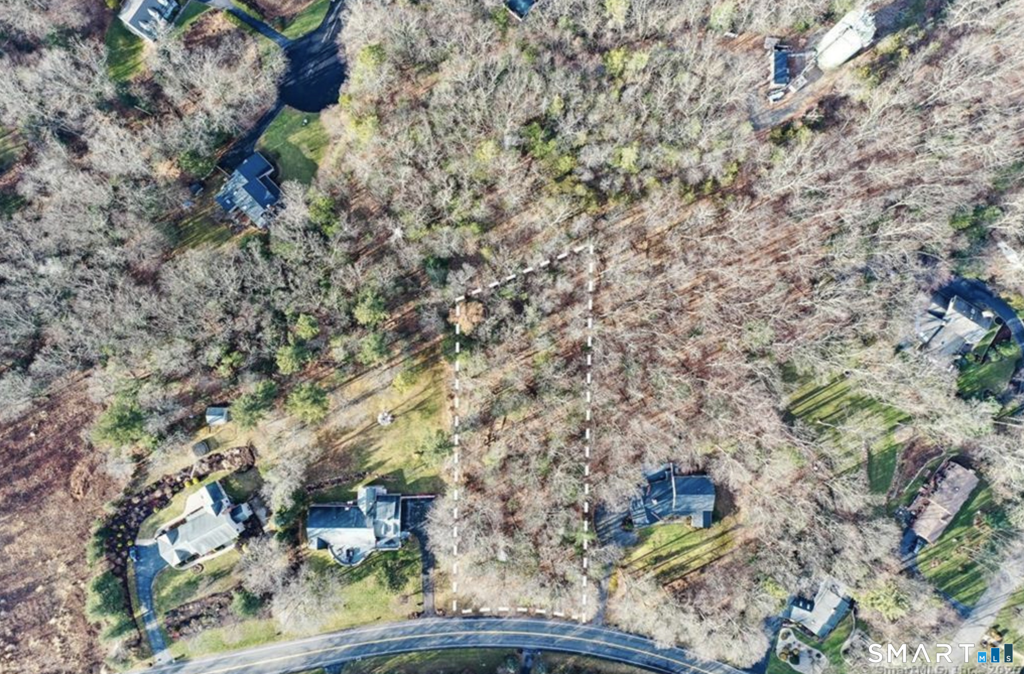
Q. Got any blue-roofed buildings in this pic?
Yes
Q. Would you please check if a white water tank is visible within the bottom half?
No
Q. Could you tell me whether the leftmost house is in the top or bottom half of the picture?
top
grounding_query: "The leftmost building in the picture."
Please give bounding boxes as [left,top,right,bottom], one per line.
[118,0,195,48]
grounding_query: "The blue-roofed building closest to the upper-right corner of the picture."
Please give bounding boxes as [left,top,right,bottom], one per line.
[770,50,790,89]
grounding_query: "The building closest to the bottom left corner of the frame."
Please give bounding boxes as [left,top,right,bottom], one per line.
[158,480,258,564]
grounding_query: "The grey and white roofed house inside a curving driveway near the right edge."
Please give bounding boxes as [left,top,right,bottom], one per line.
[915,293,991,360]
